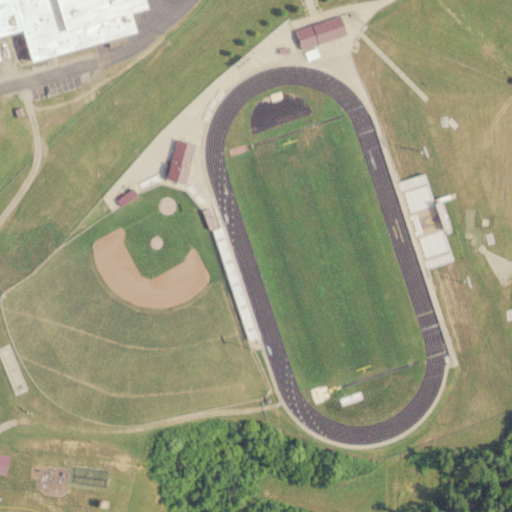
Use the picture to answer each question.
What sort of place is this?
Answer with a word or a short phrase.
sports ground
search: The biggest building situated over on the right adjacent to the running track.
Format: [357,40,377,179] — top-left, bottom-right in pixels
[296,16,346,52]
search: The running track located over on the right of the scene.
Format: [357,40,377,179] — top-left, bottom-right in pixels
[208,66,446,444]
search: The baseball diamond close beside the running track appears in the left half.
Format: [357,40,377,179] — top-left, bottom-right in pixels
[2,187,268,424]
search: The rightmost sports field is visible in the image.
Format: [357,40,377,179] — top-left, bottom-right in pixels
[257,118,420,386]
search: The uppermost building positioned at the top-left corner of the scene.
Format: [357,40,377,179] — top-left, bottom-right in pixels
[0,0,150,64]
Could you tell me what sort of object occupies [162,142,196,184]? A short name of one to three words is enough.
building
